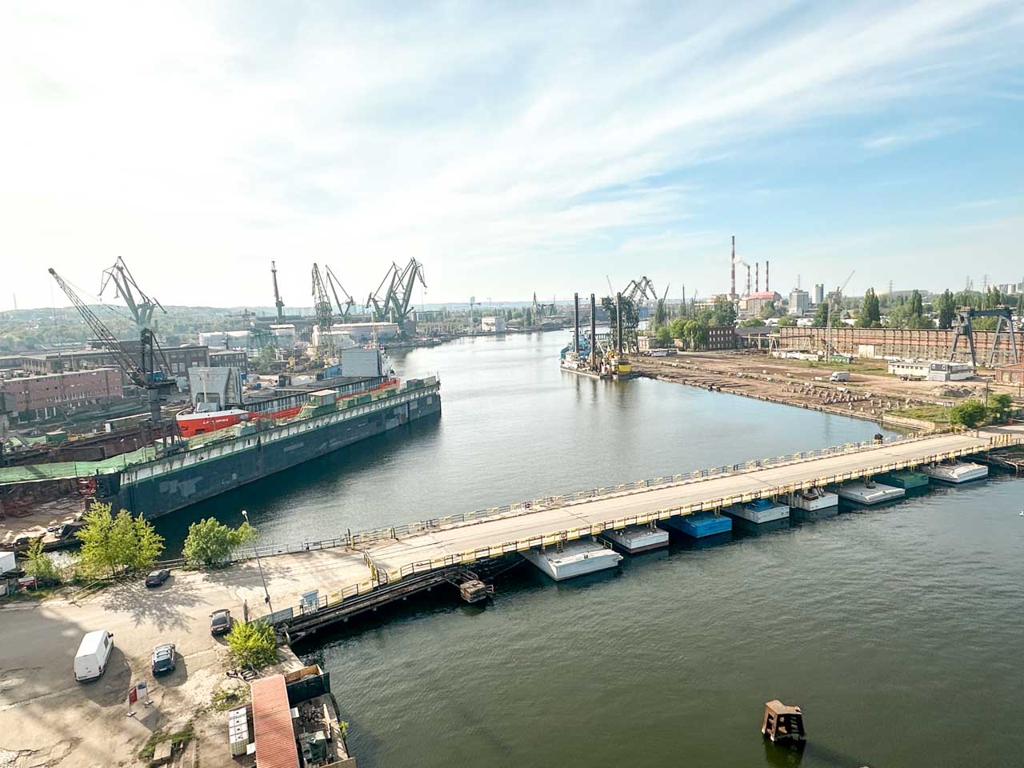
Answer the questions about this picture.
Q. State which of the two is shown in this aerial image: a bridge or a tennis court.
bridge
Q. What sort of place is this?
port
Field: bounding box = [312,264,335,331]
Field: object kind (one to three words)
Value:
crane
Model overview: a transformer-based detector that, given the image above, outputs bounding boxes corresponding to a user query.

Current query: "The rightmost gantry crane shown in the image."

[947,302,1021,366]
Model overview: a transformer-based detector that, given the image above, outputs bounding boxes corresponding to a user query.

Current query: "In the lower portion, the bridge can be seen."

[346,427,1018,590]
